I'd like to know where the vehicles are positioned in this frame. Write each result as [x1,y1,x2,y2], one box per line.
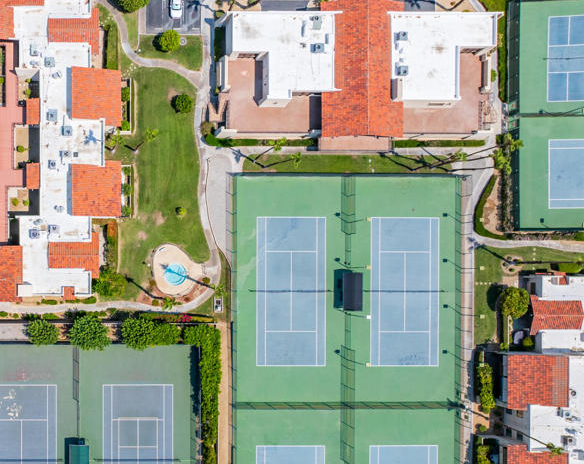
[170,0,185,18]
